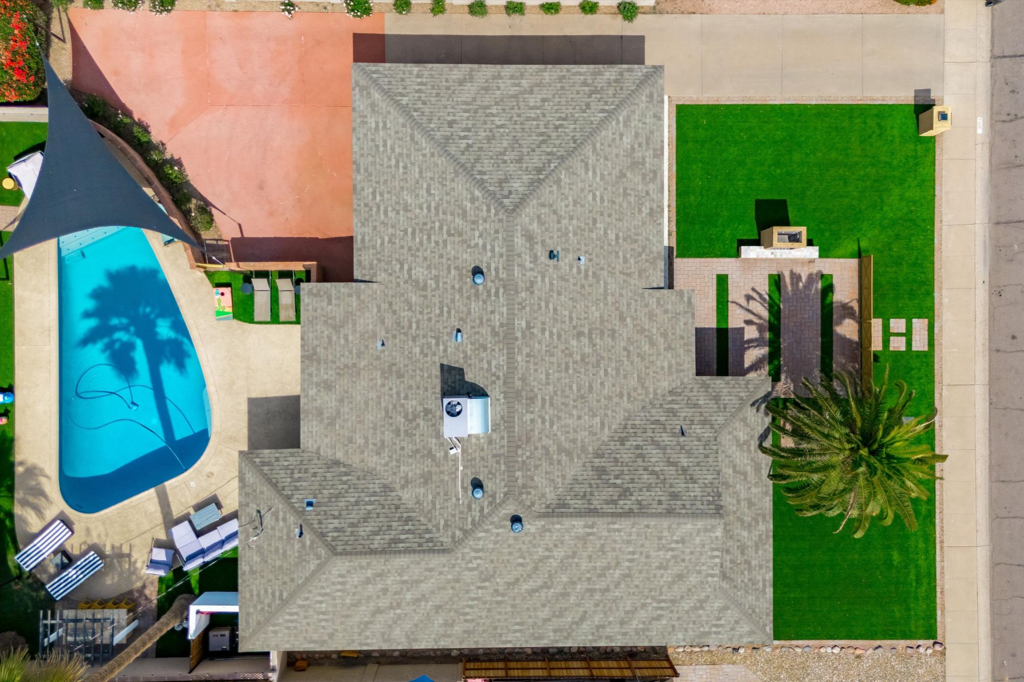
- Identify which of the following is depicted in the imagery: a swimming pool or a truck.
swimming pool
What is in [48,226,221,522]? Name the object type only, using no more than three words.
swimming pool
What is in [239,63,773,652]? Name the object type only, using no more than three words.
house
